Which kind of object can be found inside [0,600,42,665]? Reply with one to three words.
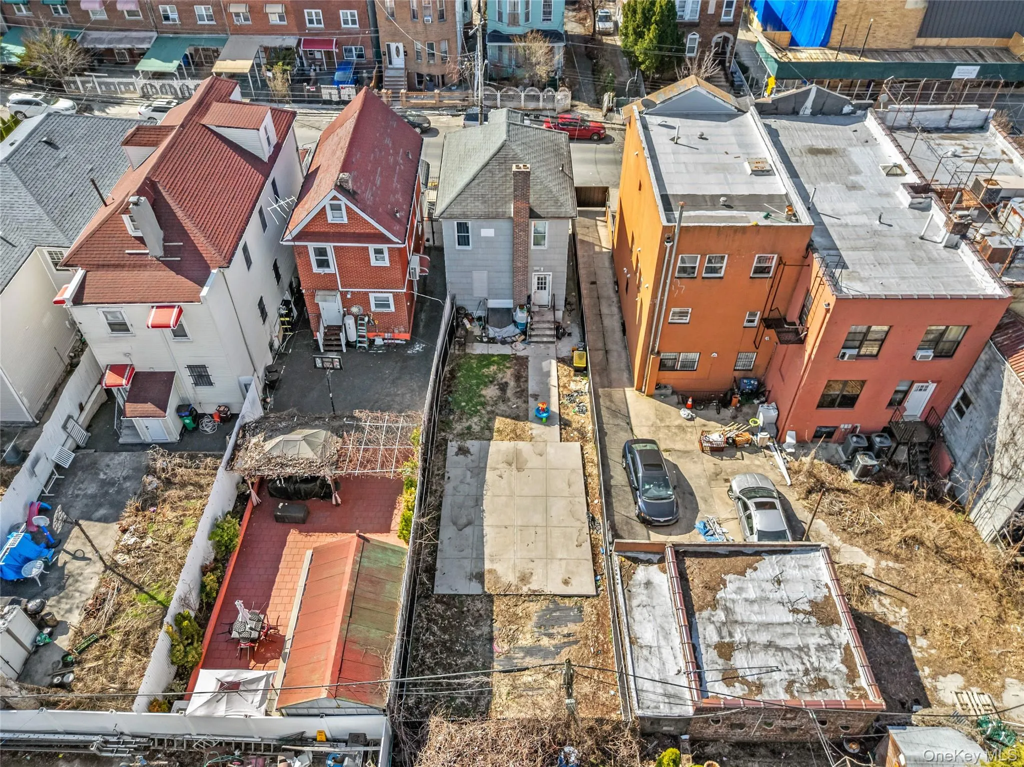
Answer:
shed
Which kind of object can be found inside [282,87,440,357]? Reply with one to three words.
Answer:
house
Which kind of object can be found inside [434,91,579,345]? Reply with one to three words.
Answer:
house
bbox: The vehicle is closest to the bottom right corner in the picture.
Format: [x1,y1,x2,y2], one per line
[740,475,797,538]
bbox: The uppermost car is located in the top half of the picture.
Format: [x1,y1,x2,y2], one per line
[595,7,616,33]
